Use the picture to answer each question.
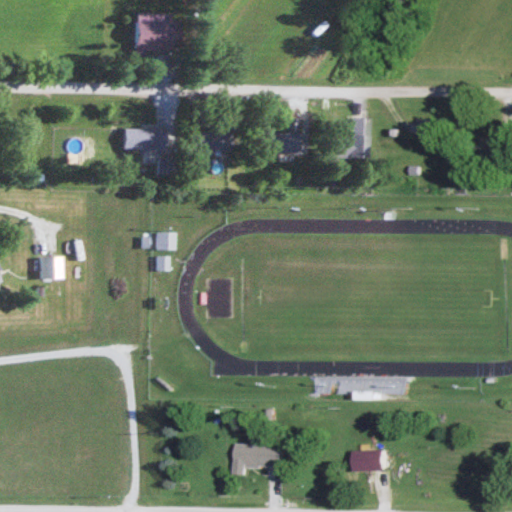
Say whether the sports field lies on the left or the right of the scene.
right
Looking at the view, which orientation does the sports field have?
horizontally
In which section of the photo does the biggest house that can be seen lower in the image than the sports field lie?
bottom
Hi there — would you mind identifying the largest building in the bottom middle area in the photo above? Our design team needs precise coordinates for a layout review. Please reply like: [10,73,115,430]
[232,444,284,476]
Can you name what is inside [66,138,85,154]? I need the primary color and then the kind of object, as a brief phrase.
blue swimming pool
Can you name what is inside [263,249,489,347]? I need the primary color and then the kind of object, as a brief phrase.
green sports field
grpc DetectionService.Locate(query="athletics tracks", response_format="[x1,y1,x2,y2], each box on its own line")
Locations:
[180,220,512,376]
